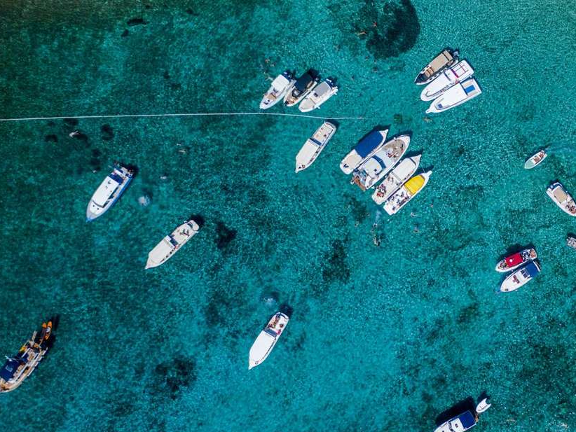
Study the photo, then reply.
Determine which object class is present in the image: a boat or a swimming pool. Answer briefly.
boat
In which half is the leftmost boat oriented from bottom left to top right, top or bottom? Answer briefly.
bottom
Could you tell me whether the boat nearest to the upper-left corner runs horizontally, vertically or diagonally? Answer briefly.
diagonally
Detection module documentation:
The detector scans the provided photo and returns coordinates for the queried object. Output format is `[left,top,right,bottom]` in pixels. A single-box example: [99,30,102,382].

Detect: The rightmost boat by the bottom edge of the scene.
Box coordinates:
[476,398,491,414]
